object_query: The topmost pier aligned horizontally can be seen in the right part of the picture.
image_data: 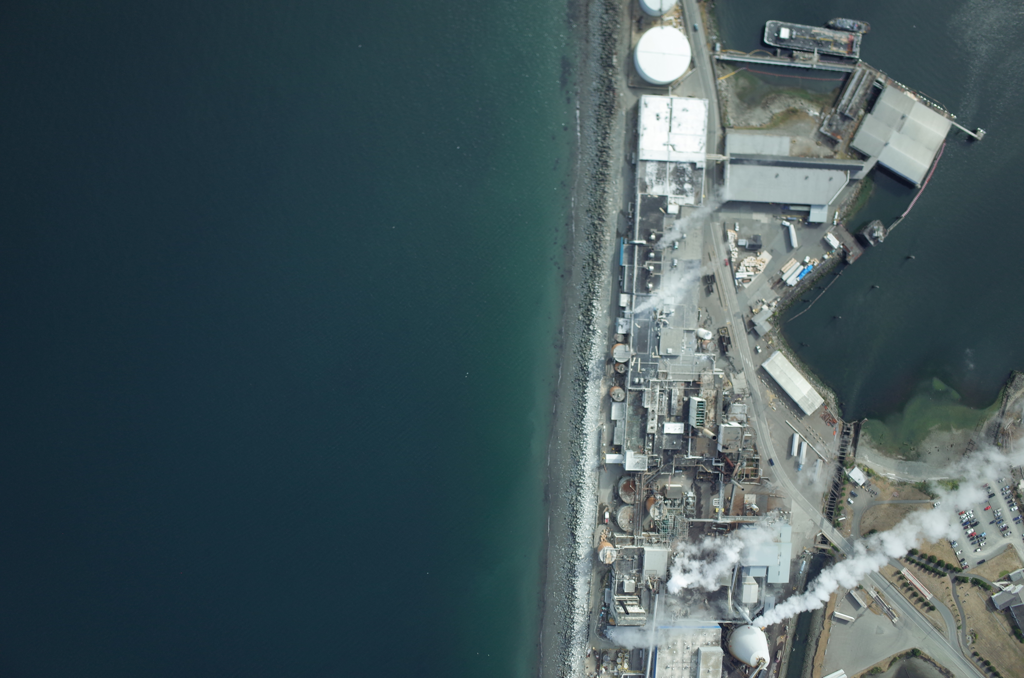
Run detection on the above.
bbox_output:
[709,52,856,73]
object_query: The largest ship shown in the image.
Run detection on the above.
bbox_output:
[763,19,862,59]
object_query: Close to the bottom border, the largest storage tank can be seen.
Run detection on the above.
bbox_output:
[728,623,770,670]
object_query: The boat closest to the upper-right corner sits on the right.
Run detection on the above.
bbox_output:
[826,18,870,34]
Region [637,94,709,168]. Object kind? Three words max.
building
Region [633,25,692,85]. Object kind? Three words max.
storage tank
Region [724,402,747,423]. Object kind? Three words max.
building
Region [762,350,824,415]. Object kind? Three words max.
shed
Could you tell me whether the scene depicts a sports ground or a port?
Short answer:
port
